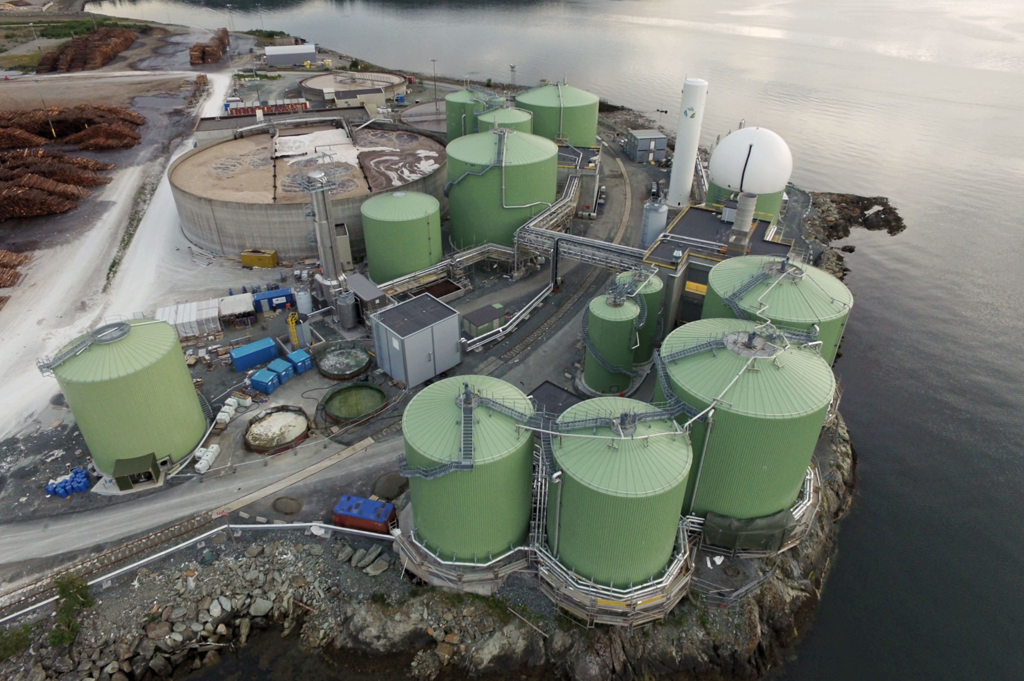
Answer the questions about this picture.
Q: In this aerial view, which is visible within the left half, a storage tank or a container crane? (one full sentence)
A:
It is a storage tank that can be seen within the left half.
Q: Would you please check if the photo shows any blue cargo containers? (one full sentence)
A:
Yes, there's a blue cargo container here.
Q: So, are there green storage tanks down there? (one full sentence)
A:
Yes, a green storage tank appears in the view.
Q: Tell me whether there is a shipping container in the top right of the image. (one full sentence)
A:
No, looking in the top right of the image, there is no shipping container.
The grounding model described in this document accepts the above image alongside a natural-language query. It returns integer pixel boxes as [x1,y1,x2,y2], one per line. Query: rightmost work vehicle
[651,153,672,167]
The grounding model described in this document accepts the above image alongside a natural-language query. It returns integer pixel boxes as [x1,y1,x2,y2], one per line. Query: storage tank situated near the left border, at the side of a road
[29,313,209,496]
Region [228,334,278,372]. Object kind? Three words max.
shipping container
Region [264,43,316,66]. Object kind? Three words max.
building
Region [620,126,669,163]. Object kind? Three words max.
building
